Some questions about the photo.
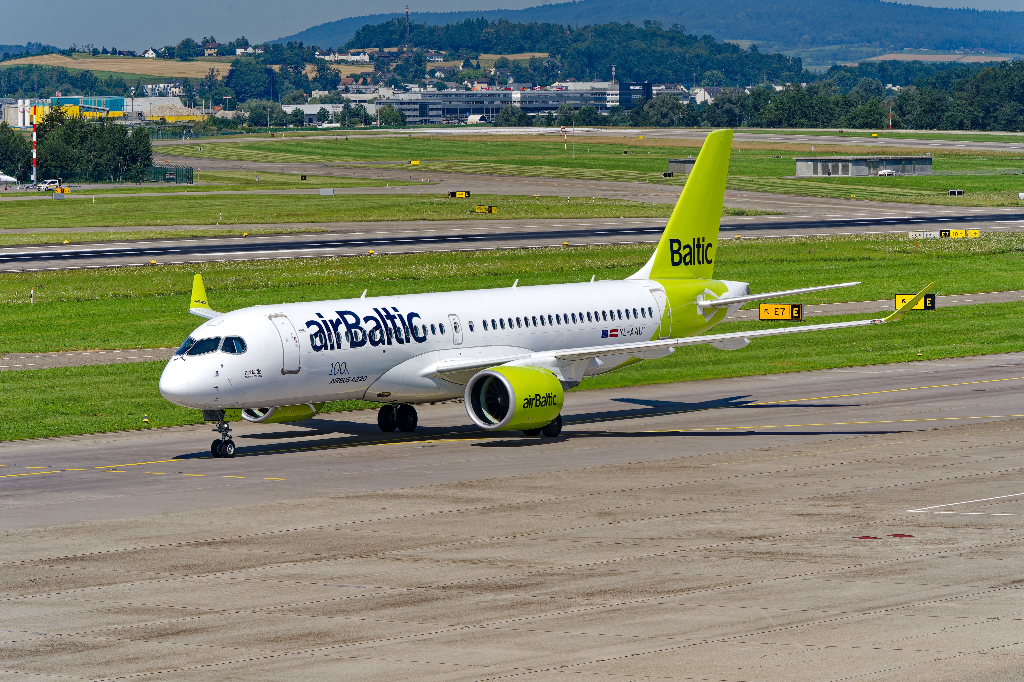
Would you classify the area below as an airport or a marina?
airport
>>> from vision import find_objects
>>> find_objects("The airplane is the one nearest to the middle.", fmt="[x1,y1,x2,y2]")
[158,129,939,458]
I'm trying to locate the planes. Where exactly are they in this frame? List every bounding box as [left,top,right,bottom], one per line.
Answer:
[158,129,939,458]
[0,173,17,189]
